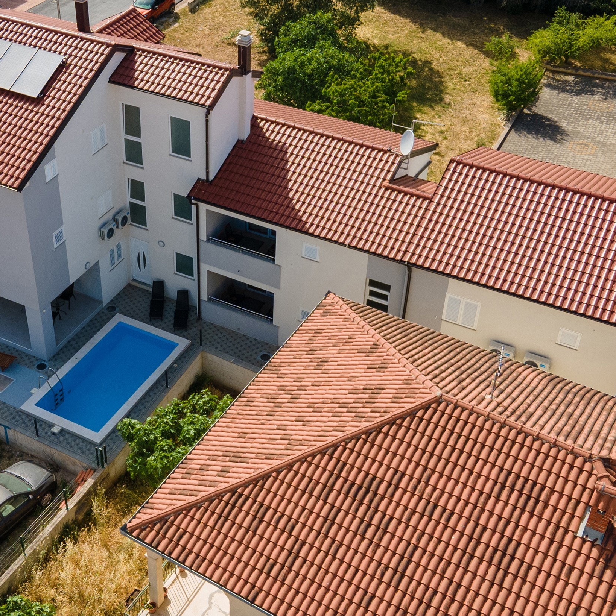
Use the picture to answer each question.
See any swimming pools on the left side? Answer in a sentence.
Yes, a swimming pool appears on the left side.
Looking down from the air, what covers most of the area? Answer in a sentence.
Most of the picture is covered by buildings.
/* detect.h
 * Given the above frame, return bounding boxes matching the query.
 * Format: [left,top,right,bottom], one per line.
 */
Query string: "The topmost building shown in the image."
[0,0,616,397]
